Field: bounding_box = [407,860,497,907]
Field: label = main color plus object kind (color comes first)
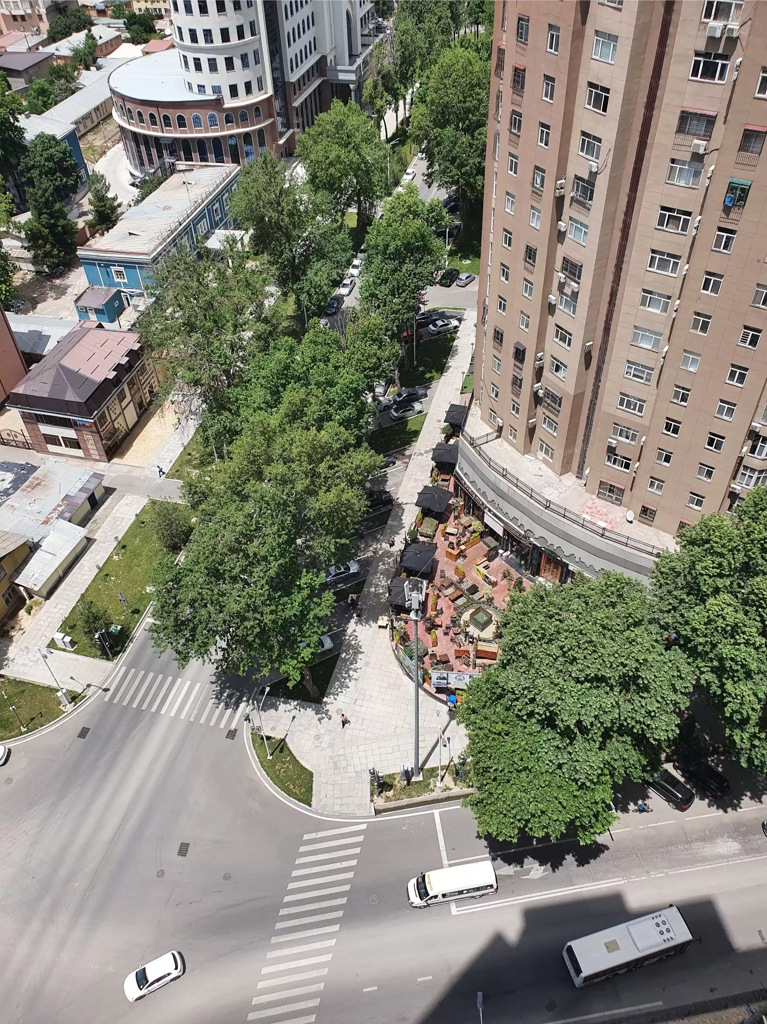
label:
white vehicle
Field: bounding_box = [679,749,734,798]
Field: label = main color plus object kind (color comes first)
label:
black car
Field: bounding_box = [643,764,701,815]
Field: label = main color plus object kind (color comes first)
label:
black car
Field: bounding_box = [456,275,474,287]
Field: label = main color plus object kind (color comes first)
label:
gray vehicle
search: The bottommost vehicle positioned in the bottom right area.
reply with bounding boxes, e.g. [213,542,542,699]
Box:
[560,903,704,989]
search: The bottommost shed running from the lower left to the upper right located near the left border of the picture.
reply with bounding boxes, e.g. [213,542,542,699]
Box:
[13,520,90,602]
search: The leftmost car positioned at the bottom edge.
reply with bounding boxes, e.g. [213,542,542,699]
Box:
[125,946,183,994]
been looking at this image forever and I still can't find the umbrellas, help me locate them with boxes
[413,486,453,513]
[441,405,467,431]
[383,577,425,608]
[396,541,438,573]
[428,443,461,469]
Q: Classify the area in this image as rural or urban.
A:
urban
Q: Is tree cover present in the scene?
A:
Yes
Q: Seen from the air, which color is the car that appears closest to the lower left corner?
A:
white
